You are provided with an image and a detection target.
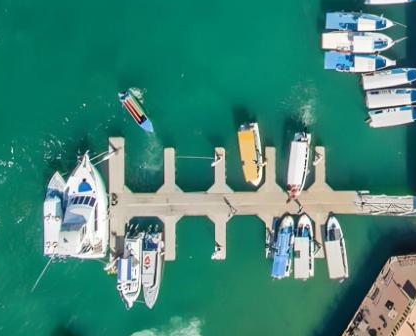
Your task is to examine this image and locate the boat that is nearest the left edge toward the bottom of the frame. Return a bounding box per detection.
[45,172,67,261]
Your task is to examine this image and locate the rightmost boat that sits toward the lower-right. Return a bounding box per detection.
[324,216,348,282]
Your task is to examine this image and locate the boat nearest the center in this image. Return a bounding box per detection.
[239,121,266,186]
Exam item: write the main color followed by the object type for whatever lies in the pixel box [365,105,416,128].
white boat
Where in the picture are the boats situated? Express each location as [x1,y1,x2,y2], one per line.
[119,227,145,309]
[321,31,403,52]
[45,172,67,261]
[365,89,416,109]
[58,147,110,259]
[361,67,416,91]
[270,215,296,281]
[239,121,266,186]
[285,131,311,197]
[365,105,416,128]
[141,227,163,309]
[324,11,399,32]
[292,214,314,281]
[323,51,398,71]
[119,90,154,132]
[324,216,348,282]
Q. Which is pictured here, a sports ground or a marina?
marina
